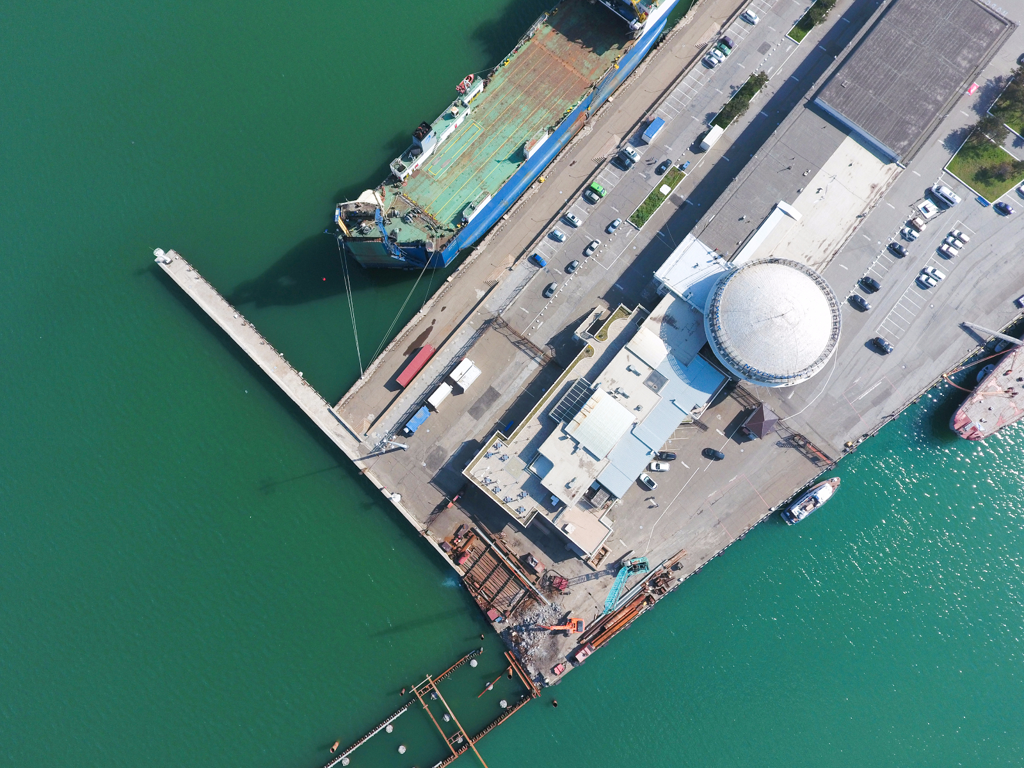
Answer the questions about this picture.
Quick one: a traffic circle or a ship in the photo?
ship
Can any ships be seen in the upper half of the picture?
Yes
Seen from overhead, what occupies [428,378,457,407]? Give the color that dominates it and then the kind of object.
white truck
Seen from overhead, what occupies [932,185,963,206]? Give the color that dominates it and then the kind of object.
white vehicle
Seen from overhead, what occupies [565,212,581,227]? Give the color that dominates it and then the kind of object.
white car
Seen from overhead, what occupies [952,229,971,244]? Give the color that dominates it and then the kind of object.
white car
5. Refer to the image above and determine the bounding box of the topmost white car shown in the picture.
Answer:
[743,9,760,24]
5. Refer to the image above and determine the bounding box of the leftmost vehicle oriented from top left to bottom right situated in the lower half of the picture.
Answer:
[522,550,548,575]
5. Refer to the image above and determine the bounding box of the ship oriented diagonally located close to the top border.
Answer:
[335,0,688,268]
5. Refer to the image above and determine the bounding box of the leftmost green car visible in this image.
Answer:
[590,181,606,197]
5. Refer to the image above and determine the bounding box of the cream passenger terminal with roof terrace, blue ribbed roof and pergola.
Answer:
[461,292,731,557]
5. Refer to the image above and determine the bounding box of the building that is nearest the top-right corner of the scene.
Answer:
[801,0,1017,168]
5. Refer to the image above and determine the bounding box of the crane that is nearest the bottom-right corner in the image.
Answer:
[584,555,651,613]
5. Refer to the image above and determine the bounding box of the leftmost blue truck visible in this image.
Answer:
[404,407,432,436]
